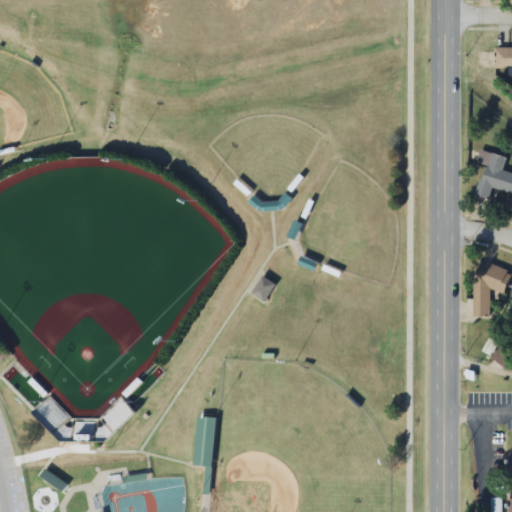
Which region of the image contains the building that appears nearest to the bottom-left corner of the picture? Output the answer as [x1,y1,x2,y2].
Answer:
[39,468,70,492]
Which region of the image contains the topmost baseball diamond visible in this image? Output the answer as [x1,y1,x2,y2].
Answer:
[0,49,74,150]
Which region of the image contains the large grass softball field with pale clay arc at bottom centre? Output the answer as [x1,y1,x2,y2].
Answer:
[216,358,392,512]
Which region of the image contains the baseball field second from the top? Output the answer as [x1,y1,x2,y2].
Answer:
[210,113,325,201]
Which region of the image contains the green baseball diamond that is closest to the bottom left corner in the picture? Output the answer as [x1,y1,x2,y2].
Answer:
[0,158,234,417]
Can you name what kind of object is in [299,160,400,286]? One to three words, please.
baseball field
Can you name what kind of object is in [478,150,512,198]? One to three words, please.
house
